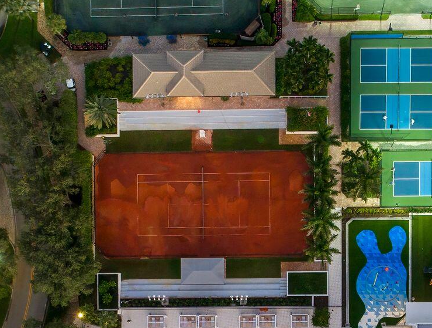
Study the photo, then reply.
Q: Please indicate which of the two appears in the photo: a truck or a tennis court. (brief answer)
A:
tennis court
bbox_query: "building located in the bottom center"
[181,258,225,284]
